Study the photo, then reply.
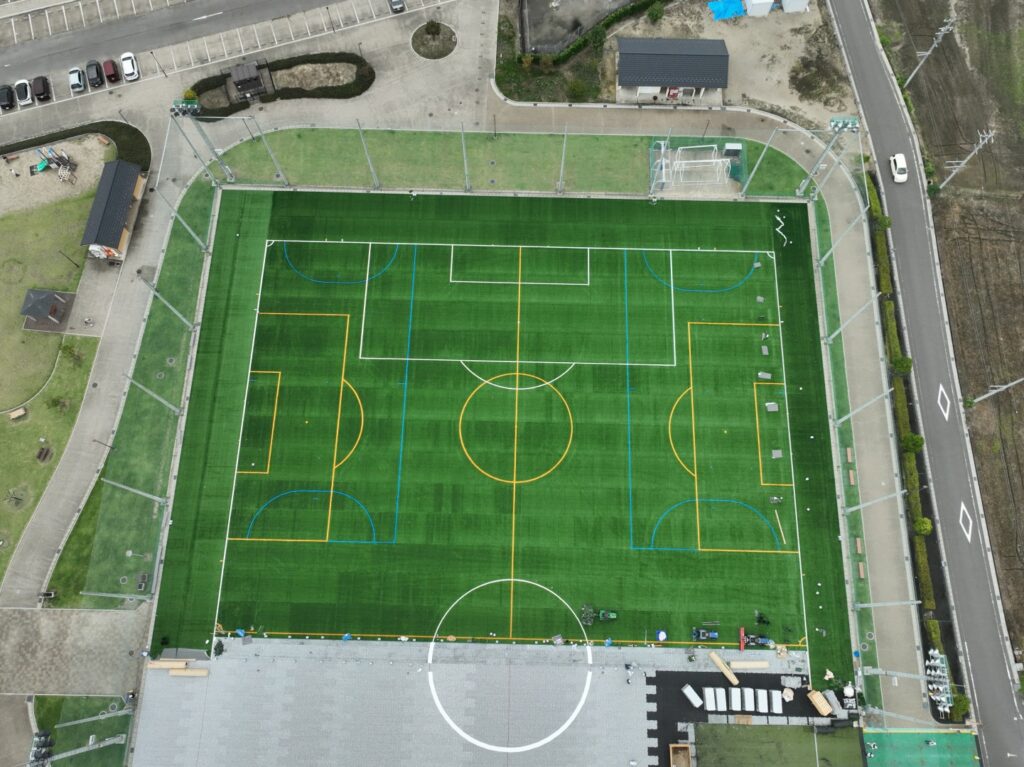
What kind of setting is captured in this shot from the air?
sports ground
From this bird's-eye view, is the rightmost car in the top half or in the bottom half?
top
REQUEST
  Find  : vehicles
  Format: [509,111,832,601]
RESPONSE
[86,61,105,89]
[691,625,722,642]
[15,81,34,108]
[121,53,140,82]
[103,61,120,84]
[0,84,16,113]
[68,68,86,94]
[32,77,51,103]
[888,154,908,184]
[581,603,622,624]
[740,624,774,651]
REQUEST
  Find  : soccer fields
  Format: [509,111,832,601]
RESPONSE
[132,190,858,767]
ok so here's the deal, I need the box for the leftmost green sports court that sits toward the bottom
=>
[695,724,866,767]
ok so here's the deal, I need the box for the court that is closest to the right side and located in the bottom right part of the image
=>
[862,720,988,767]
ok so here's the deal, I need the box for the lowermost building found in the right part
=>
[615,36,730,105]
